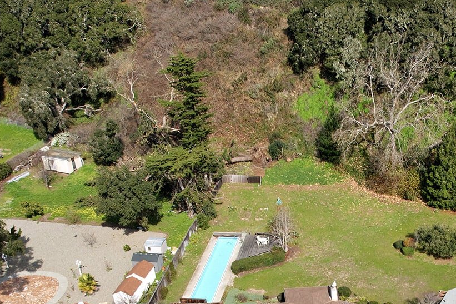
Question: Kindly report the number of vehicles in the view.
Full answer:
I count no vehicles.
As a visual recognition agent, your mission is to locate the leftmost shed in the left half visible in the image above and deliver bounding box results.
[39,144,82,173]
